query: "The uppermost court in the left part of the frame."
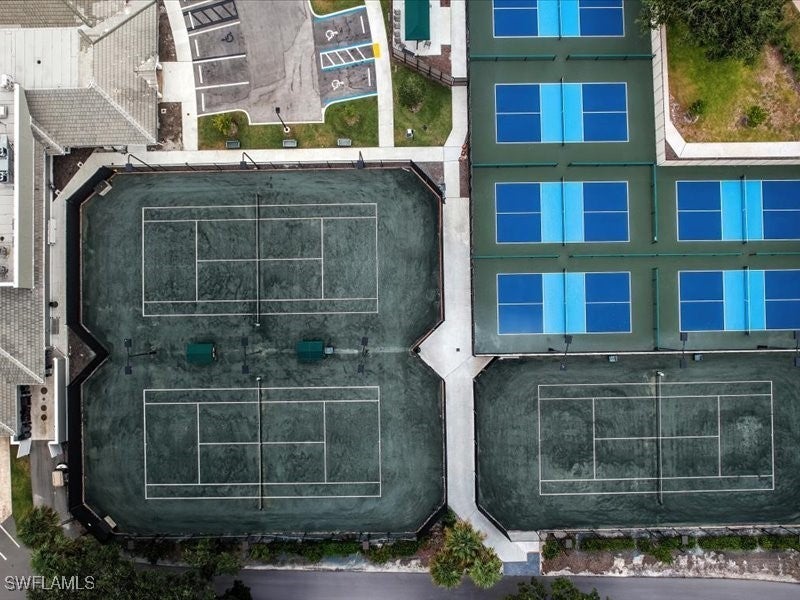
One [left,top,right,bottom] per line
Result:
[80,166,444,352]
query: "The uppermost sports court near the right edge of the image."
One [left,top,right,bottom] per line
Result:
[677,180,800,241]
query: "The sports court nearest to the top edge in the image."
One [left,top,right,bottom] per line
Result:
[492,0,625,38]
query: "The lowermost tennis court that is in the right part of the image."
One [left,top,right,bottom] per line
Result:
[475,348,800,531]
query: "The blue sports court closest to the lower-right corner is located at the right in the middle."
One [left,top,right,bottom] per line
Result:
[679,270,800,332]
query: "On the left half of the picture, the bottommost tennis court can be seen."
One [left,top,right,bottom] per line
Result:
[80,350,447,534]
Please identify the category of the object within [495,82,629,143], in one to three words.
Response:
sports court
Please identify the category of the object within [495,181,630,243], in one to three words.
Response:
sports court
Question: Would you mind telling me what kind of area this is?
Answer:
sports ground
